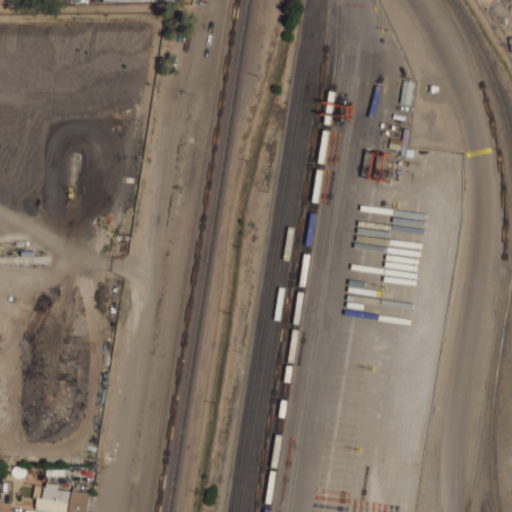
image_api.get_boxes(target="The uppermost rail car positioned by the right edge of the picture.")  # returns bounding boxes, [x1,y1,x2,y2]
[480,83,494,118]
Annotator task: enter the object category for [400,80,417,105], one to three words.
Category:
building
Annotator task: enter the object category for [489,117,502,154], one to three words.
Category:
rail car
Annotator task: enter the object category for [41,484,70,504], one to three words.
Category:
house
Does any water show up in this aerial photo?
No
